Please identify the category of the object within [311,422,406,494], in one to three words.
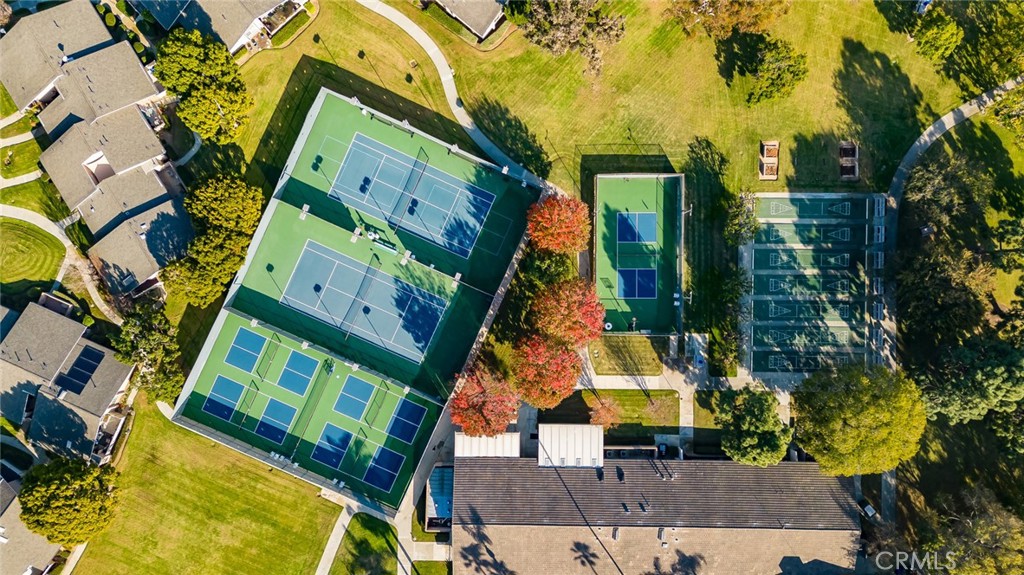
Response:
sports court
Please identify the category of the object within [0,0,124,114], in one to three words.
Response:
house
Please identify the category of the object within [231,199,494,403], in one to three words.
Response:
tennis court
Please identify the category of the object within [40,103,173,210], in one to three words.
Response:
house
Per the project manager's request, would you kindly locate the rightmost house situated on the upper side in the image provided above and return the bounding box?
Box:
[434,0,508,44]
